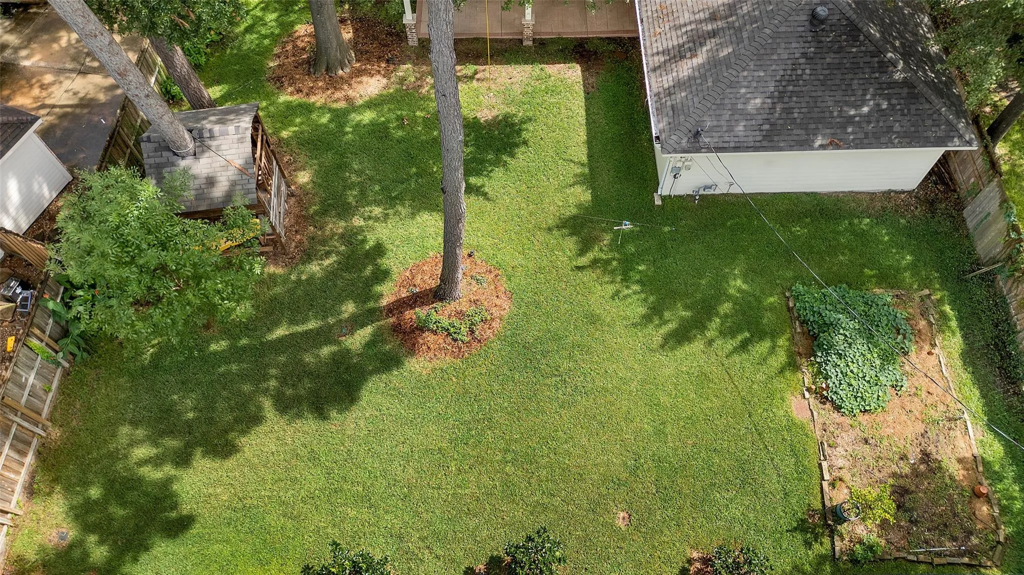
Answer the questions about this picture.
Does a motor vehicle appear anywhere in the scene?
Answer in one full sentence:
No, there is no motor vehicle in the image.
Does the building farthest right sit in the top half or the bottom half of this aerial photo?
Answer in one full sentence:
It is in the top half that the building farthest right appears.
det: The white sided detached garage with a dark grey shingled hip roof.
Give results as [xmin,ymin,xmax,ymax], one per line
[631,0,983,198]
